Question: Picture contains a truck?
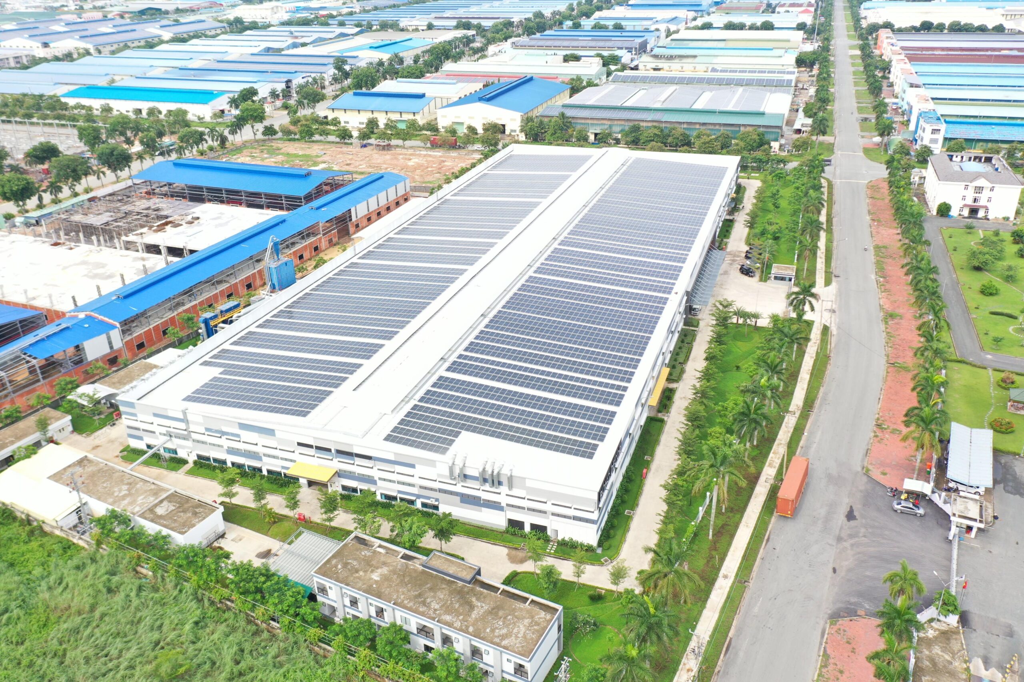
Yes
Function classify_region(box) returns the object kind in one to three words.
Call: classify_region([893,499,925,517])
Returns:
car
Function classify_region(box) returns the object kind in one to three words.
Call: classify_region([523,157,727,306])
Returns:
solar array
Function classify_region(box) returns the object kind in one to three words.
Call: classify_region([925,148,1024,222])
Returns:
building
